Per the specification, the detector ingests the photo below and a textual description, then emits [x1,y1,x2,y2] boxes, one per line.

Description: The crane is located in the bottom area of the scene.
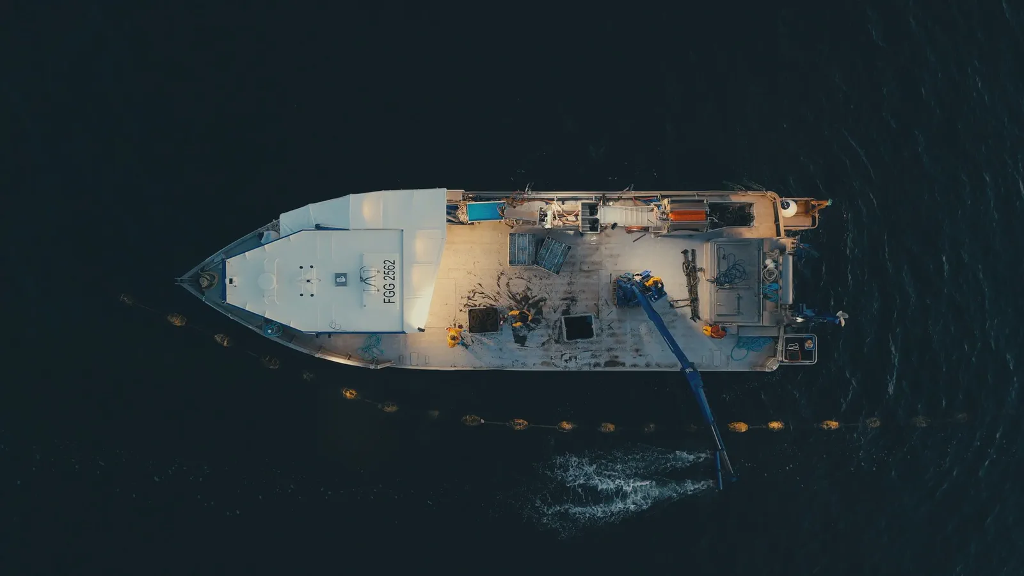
[610,270,738,494]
